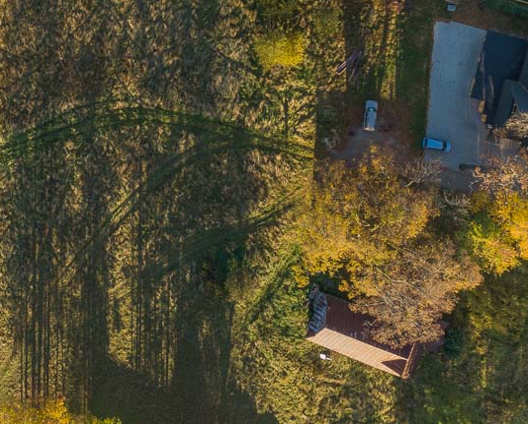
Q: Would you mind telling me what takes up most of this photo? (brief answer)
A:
grass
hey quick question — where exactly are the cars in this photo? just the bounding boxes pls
[421,136,448,150]
[364,101,377,131]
